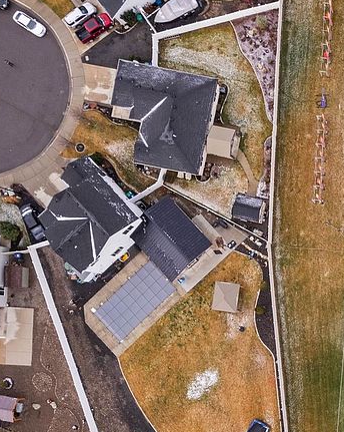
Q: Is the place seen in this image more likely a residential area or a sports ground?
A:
residential area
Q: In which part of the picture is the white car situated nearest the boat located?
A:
top left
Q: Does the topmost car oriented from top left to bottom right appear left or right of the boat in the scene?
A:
on the left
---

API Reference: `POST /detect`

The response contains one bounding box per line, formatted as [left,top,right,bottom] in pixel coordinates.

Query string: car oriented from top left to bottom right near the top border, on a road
[9,7,43,35]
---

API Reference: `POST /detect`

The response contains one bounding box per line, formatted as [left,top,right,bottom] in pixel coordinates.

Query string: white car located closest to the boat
[62,1,97,26]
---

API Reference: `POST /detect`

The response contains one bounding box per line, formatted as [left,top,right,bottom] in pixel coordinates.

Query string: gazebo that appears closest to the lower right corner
[212,282,244,313]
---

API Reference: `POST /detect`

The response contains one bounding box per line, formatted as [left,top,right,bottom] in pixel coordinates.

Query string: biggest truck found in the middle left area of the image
[17,204,46,242]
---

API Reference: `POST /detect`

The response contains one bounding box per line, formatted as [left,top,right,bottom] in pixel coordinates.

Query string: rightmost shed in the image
[231,193,267,224]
